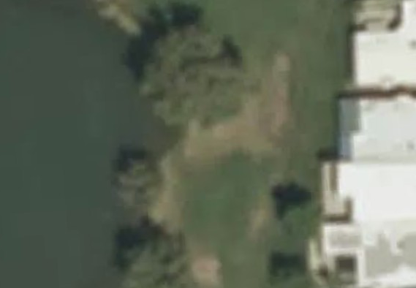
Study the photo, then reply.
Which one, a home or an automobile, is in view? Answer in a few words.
home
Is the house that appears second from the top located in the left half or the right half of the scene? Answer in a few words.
right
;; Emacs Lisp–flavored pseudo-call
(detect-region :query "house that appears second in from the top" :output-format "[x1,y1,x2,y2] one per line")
[339,97,416,161]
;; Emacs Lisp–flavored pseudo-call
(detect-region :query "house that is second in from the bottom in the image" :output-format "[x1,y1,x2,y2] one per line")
[322,162,416,224]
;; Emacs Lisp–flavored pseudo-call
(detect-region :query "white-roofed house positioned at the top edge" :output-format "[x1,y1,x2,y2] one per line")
[342,0,416,98]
